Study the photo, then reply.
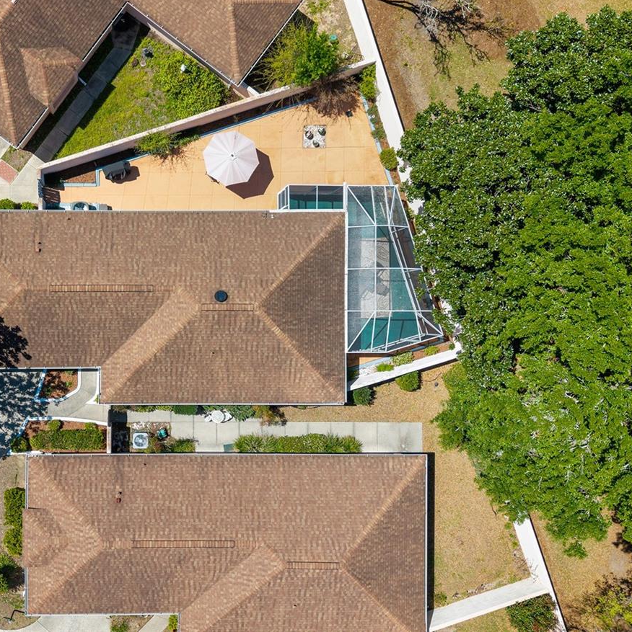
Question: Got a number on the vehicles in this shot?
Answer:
none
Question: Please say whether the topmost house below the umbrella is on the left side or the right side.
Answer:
left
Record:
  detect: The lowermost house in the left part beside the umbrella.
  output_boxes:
[0,207,349,407]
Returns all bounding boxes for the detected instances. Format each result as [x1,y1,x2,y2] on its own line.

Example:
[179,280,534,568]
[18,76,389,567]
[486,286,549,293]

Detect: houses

[3,451,431,632]
[0,0,304,148]
[0,207,349,407]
